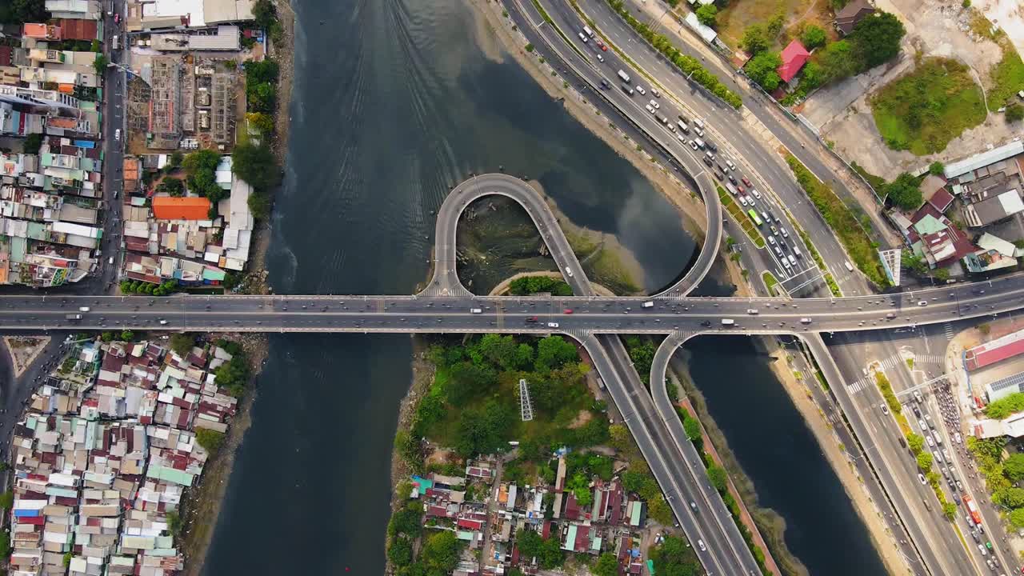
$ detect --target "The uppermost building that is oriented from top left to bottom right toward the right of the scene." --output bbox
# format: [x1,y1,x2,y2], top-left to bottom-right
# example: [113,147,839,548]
[684,13,717,43]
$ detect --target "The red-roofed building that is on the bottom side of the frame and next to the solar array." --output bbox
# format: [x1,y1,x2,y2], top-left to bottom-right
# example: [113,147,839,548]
[959,326,1024,371]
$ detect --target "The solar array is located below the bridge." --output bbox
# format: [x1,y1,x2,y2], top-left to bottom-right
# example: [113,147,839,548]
[991,372,1024,393]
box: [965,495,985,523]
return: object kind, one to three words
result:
bus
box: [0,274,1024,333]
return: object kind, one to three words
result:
bridge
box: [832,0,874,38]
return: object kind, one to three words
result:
house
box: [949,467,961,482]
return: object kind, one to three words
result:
vehicle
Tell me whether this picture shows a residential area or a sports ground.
residential area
